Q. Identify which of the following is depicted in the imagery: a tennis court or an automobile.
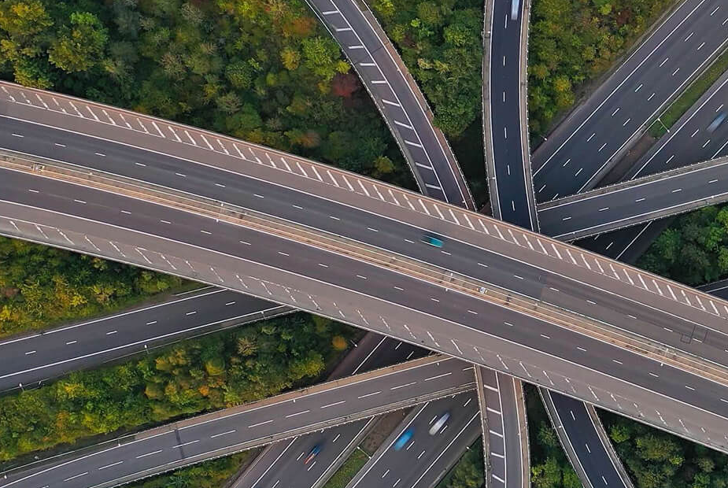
automobile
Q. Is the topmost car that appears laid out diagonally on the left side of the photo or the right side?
right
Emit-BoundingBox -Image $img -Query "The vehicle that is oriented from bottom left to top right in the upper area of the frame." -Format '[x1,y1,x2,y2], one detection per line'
[707,109,728,131]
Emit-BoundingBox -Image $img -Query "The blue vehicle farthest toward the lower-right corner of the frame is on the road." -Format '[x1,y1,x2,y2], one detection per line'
[396,429,414,448]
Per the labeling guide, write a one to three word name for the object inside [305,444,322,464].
car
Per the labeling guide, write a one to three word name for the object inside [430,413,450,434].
car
